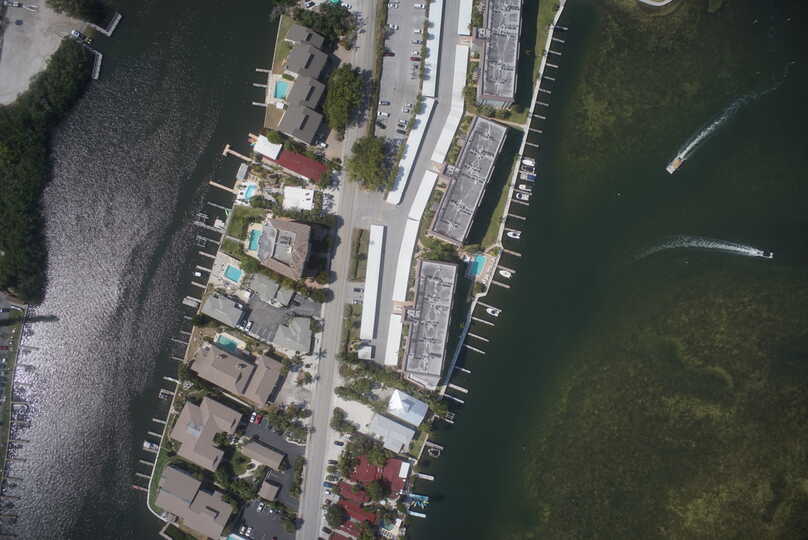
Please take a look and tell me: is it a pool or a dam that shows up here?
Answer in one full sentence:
The image shows a pool.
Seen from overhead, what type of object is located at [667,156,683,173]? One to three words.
boat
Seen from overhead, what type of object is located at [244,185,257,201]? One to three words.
swimming pool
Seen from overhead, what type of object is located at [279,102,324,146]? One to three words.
house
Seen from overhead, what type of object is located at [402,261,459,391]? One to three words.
building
